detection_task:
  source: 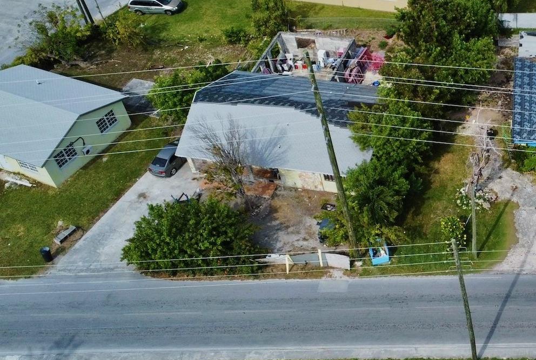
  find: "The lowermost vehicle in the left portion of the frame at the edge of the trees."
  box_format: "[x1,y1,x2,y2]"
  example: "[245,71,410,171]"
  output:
[142,134,184,178]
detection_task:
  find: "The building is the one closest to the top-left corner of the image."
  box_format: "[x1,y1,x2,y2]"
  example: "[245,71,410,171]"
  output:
[0,68,132,187]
